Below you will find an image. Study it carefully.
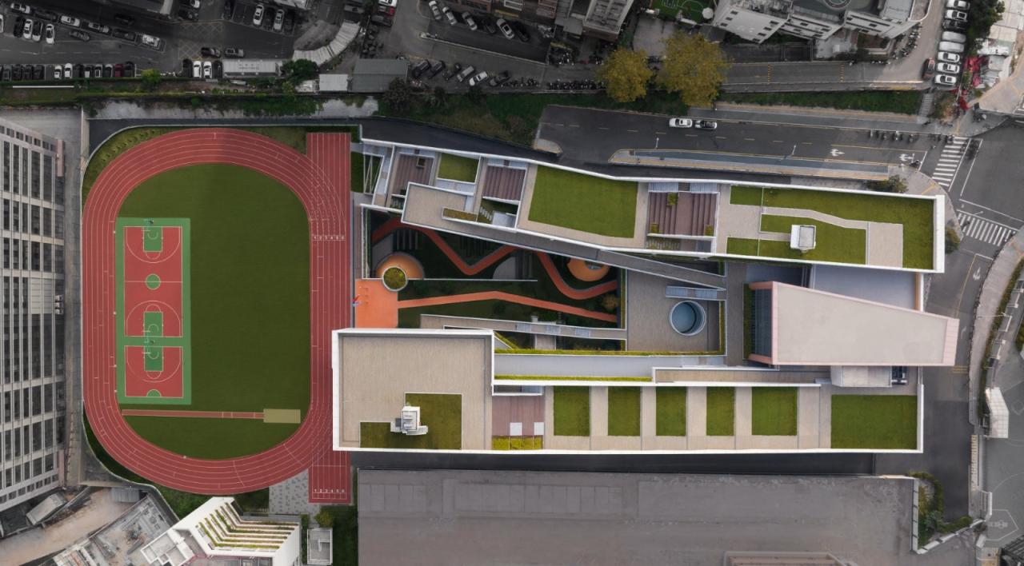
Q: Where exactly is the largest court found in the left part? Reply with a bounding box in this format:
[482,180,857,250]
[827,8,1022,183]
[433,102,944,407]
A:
[117,218,191,342]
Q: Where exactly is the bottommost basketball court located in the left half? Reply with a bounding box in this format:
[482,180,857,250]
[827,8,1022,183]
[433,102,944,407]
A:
[117,342,191,404]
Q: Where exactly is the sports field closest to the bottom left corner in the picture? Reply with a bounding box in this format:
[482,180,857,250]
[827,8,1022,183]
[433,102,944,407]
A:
[116,163,311,460]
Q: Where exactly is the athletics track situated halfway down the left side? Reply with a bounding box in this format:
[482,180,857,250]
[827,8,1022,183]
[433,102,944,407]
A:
[83,129,351,505]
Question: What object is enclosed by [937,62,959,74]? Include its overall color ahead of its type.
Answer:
white vehicle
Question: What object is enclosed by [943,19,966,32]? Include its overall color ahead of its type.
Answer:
black vehicle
